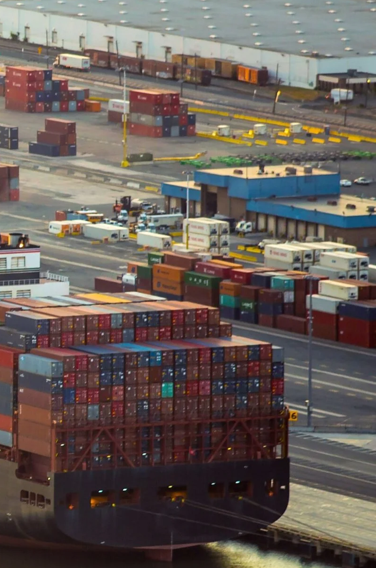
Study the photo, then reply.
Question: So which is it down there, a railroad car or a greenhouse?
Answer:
railroad car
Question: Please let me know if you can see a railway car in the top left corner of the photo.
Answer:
Yes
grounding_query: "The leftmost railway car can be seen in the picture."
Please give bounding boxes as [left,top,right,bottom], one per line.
[83,46,117,67]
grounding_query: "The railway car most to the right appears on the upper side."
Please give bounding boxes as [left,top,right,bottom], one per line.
[236,66,267,85]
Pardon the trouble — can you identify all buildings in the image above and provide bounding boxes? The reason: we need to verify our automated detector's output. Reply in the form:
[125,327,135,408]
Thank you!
[161,164,376,251]
[0,0,376,90]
